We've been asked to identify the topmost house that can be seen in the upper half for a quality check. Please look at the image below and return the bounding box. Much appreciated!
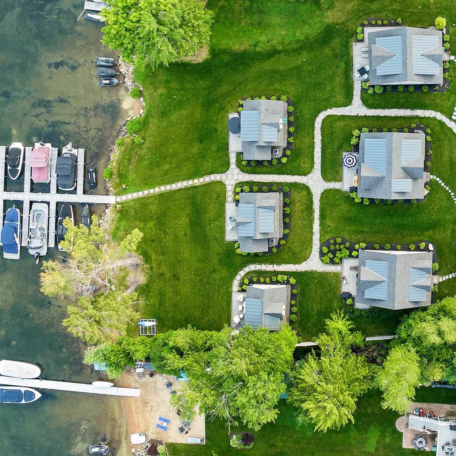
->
[368,26,444,84]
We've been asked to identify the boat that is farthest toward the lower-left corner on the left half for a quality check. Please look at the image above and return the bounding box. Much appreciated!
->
[0,386,42,403]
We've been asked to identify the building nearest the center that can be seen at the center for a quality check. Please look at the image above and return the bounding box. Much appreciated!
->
[235,193,282,254]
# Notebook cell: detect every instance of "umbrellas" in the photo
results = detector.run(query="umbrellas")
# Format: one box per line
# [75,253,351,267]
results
[226,117,242,132]
[341,152,359,169]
